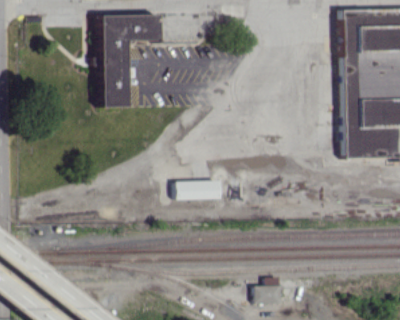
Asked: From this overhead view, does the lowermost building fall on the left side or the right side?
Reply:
right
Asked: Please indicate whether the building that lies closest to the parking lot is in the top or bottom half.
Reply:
top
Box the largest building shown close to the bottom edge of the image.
[250,286,282,306]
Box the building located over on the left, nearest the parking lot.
[96,15,162,106]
